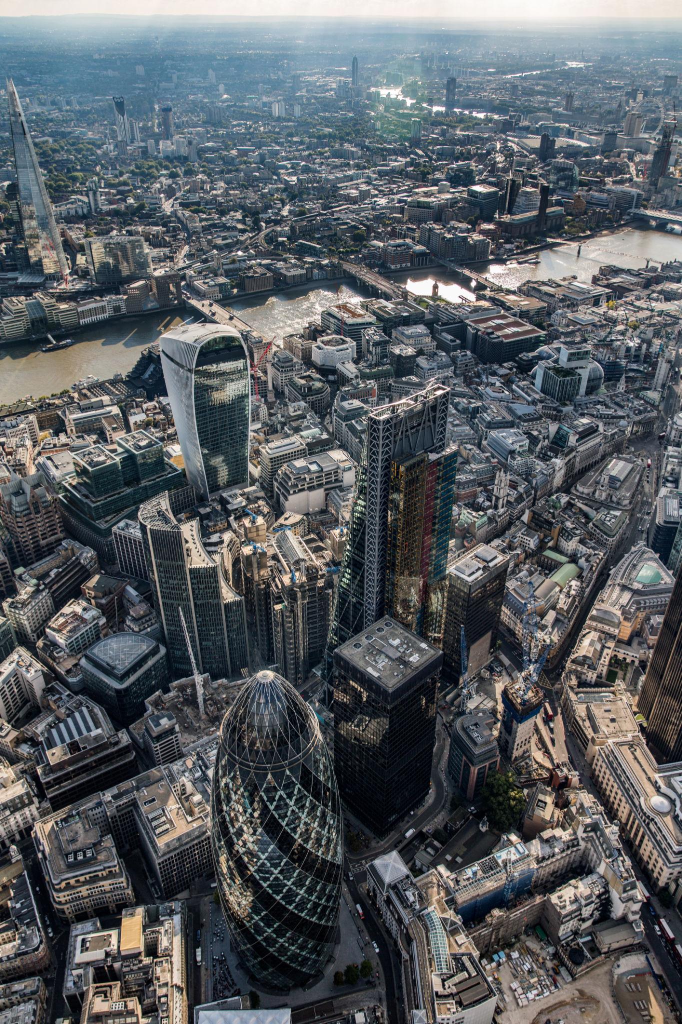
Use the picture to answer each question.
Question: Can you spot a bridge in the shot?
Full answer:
Yes, the image includes a bridge.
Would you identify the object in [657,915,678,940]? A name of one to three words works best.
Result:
bus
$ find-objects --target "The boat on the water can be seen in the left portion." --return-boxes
[35,338,78,351]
